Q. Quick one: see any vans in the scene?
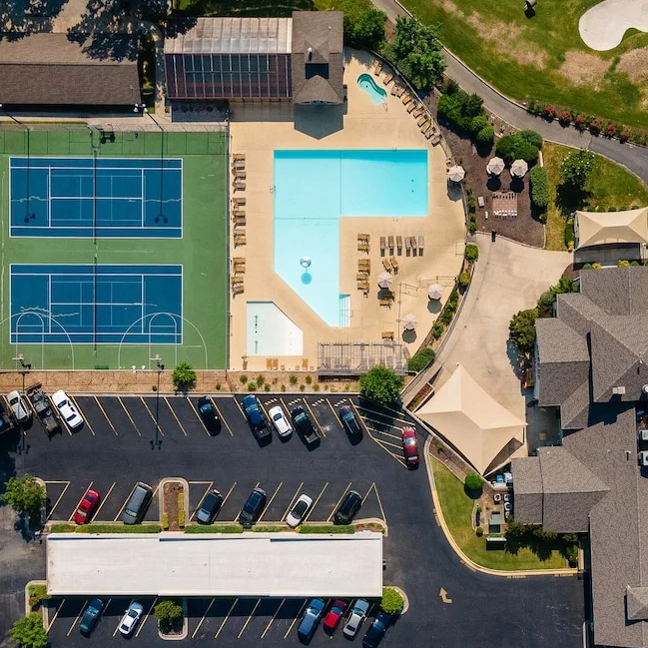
Yes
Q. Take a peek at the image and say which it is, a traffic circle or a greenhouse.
greenhouse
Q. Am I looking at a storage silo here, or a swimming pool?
swimming pool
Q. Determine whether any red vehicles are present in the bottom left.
Yes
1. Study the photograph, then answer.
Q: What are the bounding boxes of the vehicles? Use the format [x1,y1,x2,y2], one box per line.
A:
[323,598,348,631]
[288,402,321,448]
[195,488,223,524]
[72,487,101,523]
[0,407,12,433]
[77,598,104,635]
[336,403,364,440]
[54,391,82,427]
[121,483,151,522]
[400,426,419,466]
[238,488,266,525]
[334,489,362,526]
[343,600,371,637]
[296,599,325,637]
[116,600,144,637]
[361,608,394,648]
[5,389,33,427]
[239,393,273,440]
[266,402,294,439]
[285,493,313,528]
[22,385,63,436]
[194,395,222,432]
